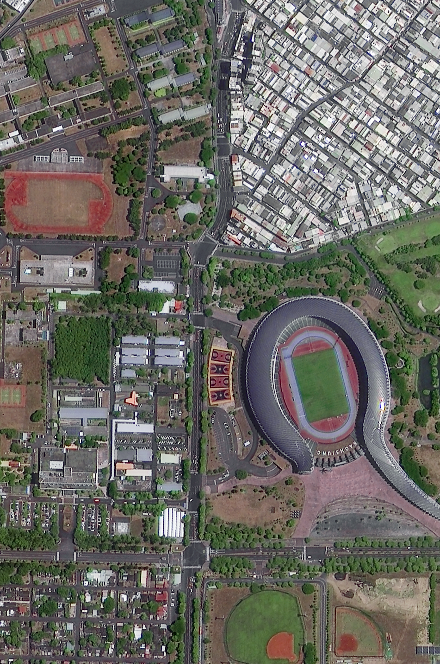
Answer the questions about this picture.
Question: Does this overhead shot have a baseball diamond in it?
Yes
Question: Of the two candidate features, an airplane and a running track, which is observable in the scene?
running track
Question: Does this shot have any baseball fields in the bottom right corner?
Yes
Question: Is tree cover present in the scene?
Yes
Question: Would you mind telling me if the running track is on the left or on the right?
left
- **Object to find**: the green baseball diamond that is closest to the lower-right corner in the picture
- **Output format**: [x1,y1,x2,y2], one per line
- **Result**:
[225,590,305,664]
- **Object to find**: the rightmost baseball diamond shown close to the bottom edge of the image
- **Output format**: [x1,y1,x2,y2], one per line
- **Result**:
[335,606,385,657]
